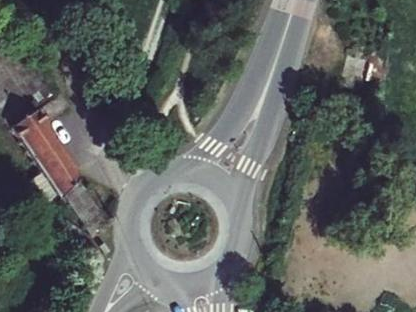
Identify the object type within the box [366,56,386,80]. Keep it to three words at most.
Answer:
shed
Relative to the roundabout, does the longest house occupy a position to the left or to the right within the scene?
on its left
